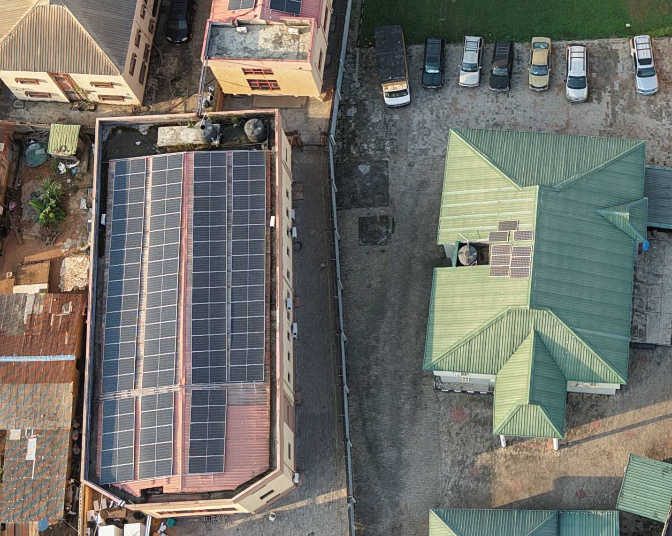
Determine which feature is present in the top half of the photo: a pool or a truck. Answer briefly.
truck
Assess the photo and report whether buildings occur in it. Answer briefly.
Yes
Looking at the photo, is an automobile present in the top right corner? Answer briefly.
Yes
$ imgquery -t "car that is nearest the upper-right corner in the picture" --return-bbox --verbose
[631,36,659,95]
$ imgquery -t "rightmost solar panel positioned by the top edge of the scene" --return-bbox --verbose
[270,0,303,14]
